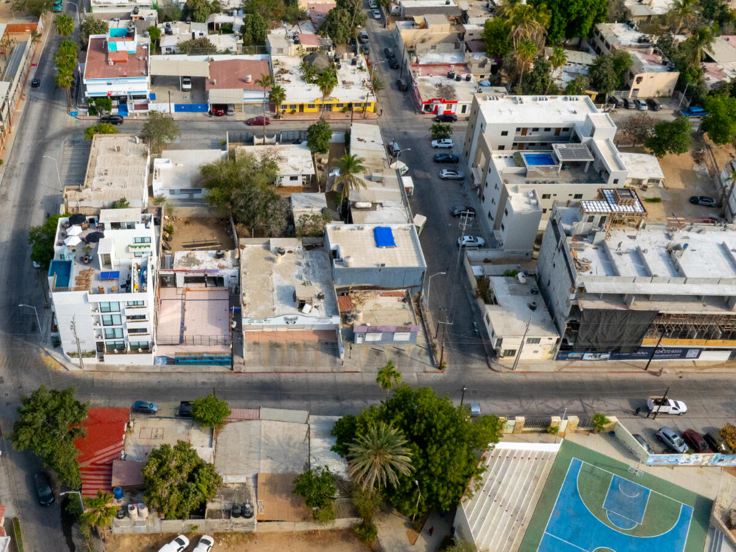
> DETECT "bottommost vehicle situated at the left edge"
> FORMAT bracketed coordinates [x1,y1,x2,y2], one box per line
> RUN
[32,468,56,508]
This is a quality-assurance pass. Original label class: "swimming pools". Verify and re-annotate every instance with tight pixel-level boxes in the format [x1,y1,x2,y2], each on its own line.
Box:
[523,154,553,165]
[51,262,70,288]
